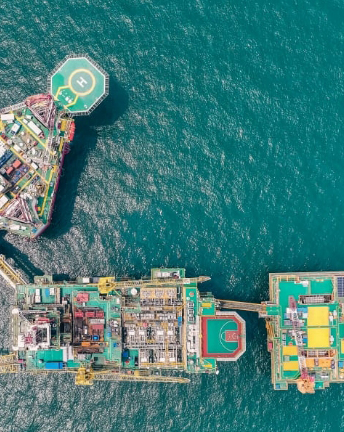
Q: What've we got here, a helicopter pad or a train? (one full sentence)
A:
This aerial view contains a helicopter pad.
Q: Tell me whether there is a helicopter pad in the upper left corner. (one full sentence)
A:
Yes, you'll find a helicopter pad in the upper left corner.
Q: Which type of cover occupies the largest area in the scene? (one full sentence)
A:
For the most part, this view shows water.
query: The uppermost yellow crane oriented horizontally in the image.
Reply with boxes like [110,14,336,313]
[95,276,211,292]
